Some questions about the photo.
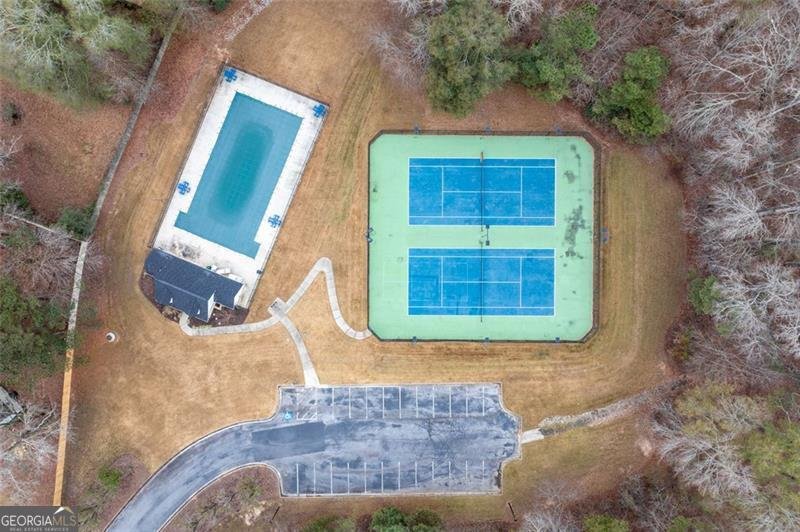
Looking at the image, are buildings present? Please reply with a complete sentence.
Yes, there's a building down there.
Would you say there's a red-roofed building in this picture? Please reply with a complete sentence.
No, I find no red-roofed building anywhere in the image.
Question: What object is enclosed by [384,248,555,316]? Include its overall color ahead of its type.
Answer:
blue tennis court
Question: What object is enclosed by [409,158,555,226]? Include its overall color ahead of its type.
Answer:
blue tennis court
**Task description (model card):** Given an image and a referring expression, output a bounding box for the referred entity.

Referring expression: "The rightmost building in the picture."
[145,249,245,322]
